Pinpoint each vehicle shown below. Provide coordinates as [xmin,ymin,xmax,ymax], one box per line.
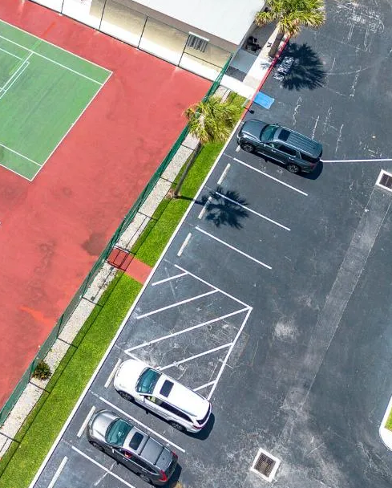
[239,120,326,174]
[85,411,179,488]
[116,361,214,437]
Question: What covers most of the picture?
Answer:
paved ground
